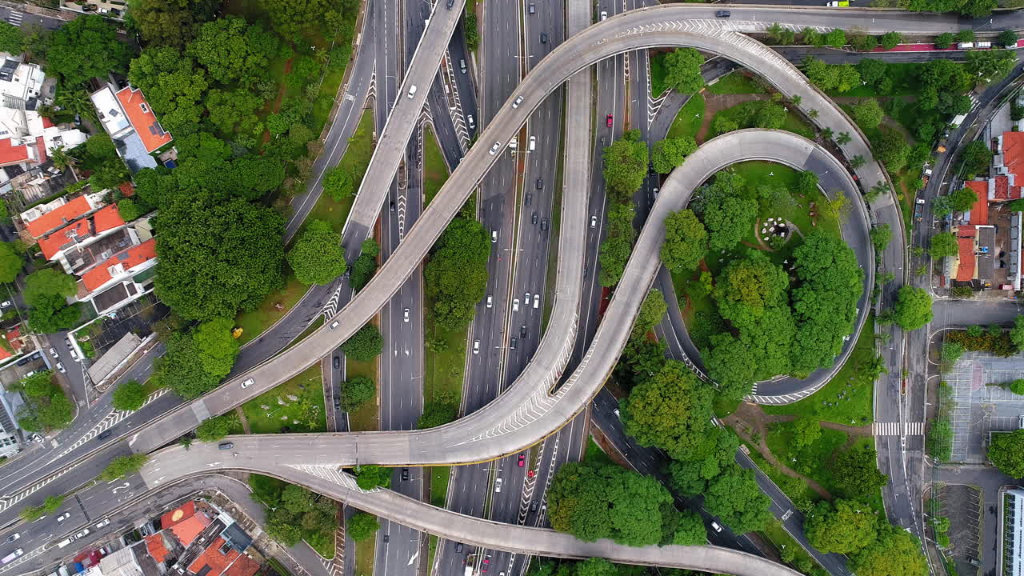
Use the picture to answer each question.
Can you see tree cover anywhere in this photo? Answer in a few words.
Yes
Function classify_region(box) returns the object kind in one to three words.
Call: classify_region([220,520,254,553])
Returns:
house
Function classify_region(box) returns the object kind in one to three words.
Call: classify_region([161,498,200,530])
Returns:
house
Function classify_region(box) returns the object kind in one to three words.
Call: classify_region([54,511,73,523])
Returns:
vehicle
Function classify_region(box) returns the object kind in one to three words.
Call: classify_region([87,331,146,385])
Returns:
shed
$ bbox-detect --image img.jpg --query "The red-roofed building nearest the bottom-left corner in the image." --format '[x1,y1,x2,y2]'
[74,546,107,567]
